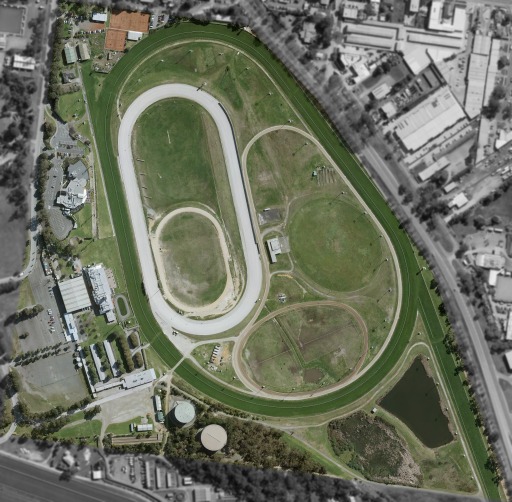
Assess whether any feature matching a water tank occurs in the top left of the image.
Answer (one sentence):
No, no water tank can be made out in the top left of the image.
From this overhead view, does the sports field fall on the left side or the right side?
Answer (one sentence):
The sports field is on the right side of the image.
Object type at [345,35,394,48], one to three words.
building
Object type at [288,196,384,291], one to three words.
sports field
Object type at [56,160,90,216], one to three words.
building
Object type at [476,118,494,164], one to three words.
shed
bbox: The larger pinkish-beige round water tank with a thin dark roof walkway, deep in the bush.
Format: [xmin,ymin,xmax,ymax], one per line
[200,424,228,452]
